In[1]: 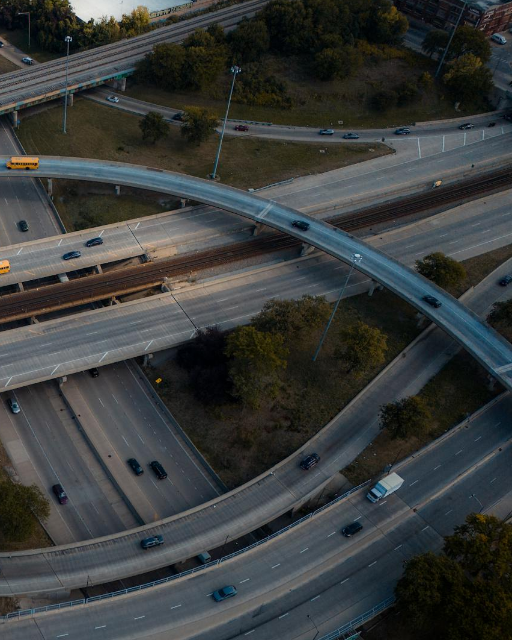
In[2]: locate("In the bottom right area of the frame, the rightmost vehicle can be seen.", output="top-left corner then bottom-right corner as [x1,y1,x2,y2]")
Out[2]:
[366,467,409,503]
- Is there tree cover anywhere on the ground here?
Yes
